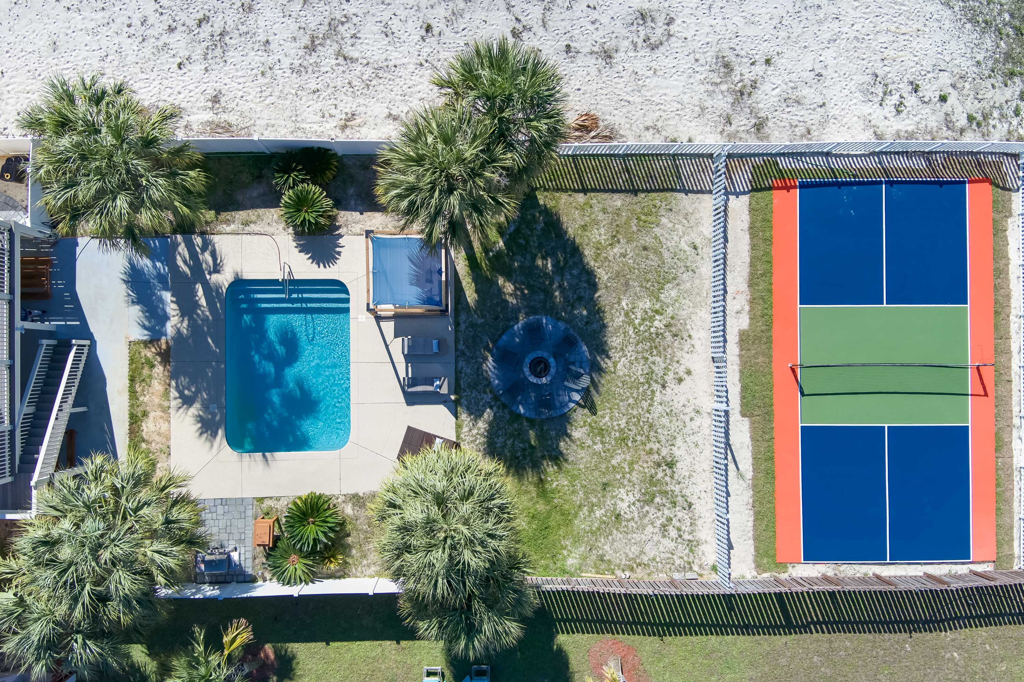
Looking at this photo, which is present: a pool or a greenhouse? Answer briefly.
pool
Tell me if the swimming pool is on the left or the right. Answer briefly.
left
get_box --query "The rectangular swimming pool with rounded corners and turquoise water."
[226,279,350,453]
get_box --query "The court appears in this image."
[772,177,998,564]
